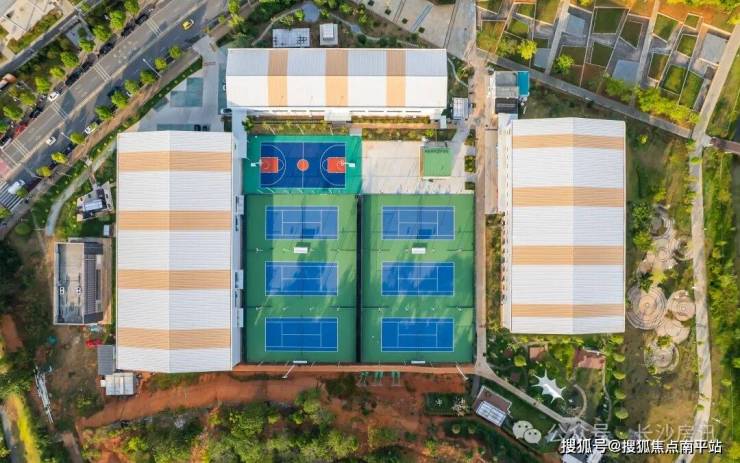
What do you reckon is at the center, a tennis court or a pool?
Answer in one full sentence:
There is a tennis court at the center.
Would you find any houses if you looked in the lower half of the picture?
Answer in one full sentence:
Yes, I can see a house in the lower half of the picture.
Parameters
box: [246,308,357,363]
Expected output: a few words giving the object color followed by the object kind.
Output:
green tennis court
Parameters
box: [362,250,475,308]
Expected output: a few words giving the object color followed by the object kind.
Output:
green tennis court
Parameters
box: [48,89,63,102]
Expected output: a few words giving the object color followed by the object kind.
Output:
white vehicle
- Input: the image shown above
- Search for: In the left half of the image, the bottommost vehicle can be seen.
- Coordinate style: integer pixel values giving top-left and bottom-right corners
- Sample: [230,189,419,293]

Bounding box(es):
[7,178,25,192]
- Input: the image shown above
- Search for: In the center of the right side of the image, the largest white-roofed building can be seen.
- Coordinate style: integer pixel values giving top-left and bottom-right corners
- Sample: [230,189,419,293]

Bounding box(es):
[493,109,626,336]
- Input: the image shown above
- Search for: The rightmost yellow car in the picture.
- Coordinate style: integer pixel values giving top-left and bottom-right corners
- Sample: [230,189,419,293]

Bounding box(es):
[180,19,194,32]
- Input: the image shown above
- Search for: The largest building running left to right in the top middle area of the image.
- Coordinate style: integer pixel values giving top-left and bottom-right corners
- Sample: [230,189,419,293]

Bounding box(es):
[225,48,447,122]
